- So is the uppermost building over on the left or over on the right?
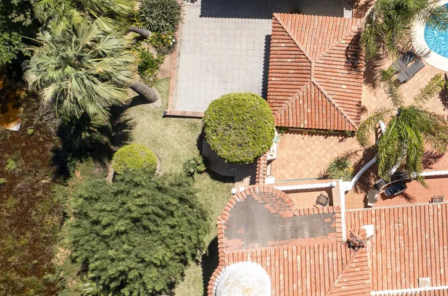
right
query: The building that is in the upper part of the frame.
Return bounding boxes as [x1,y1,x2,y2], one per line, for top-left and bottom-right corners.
[264,10,366,134]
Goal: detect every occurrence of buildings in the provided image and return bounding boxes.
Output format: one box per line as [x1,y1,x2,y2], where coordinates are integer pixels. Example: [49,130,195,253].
[264,10,366,134]
[206,185,448,296]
